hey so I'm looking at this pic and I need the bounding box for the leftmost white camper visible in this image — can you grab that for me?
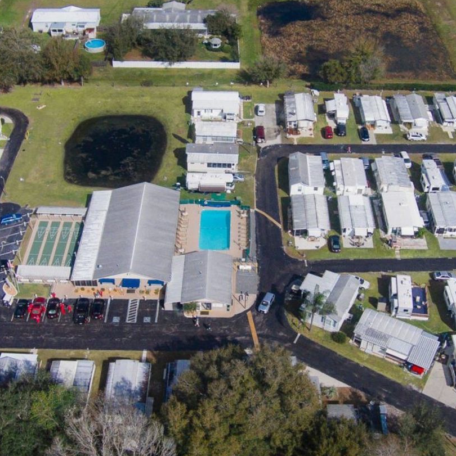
[187,172,233,193]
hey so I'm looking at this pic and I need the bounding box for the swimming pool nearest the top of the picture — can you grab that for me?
[84,42,107,55]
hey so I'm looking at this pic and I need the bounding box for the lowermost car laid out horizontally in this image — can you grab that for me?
[404,363,435,377]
